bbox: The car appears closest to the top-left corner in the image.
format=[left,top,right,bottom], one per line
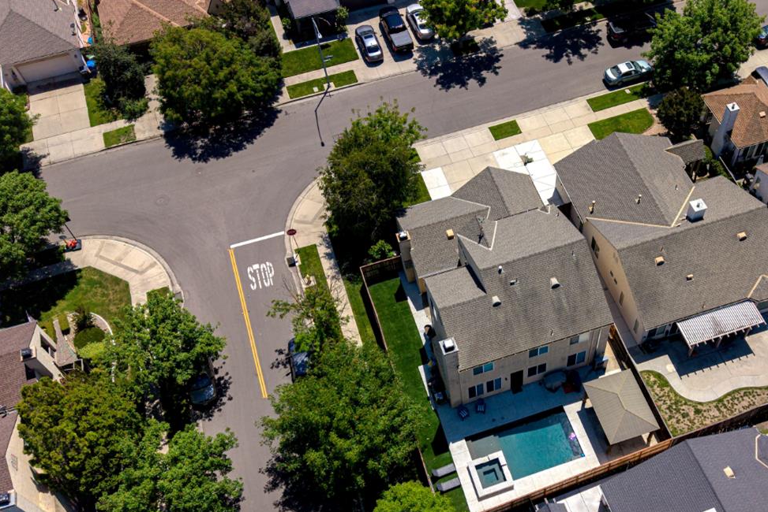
[355,27,383,59]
